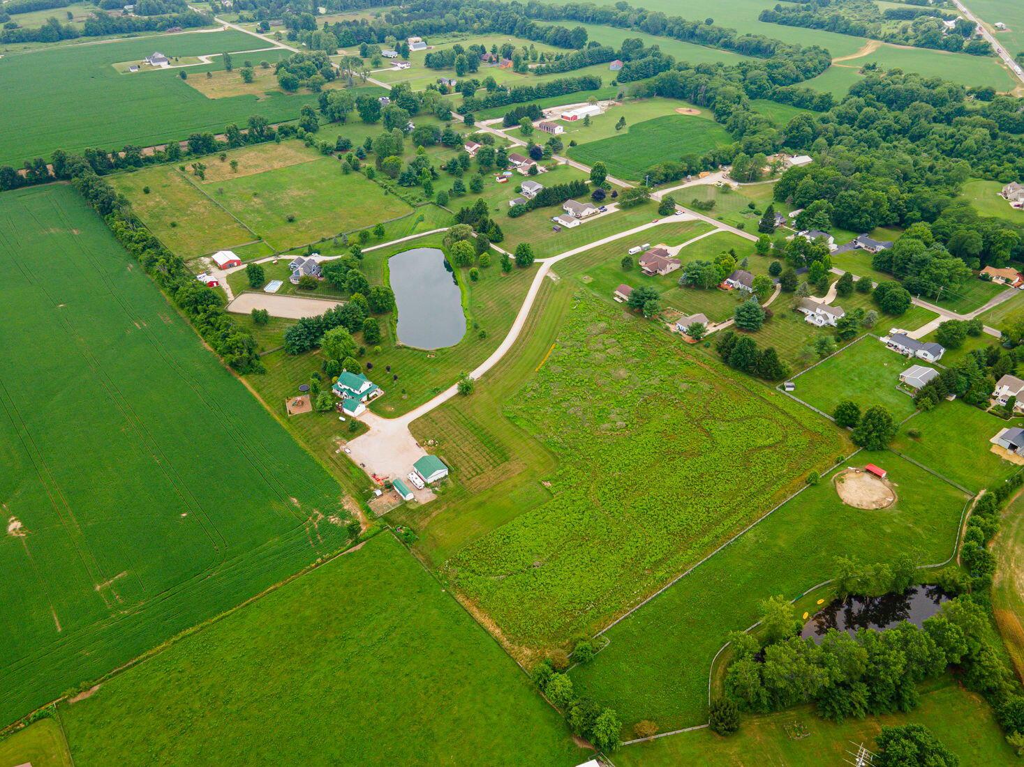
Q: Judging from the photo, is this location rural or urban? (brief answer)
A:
rural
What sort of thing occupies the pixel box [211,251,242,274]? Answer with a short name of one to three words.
barn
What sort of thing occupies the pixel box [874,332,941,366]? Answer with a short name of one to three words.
house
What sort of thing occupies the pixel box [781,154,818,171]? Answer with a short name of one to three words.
building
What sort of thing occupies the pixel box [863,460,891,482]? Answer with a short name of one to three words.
shed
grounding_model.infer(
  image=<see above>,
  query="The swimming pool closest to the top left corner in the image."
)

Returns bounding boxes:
[259,279,287,295]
